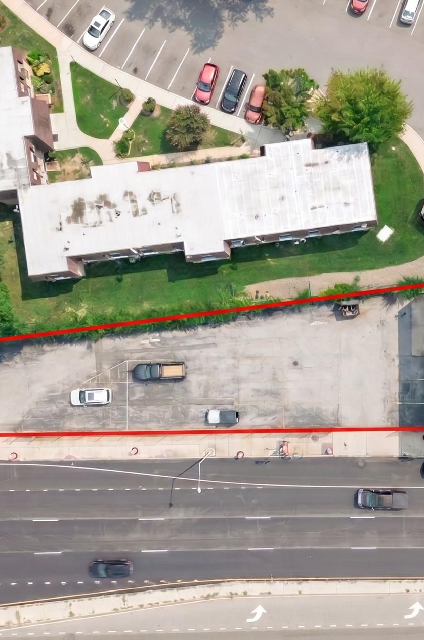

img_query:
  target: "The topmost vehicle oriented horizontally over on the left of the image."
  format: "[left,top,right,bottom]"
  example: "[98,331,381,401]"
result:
[132,360,188,382]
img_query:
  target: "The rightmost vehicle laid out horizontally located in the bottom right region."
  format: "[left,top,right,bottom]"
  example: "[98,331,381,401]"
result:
[357,488,410,512]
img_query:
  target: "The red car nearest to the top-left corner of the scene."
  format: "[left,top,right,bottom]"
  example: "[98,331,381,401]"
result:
[194,61,221,105]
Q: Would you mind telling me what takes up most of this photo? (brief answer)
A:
paved ground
